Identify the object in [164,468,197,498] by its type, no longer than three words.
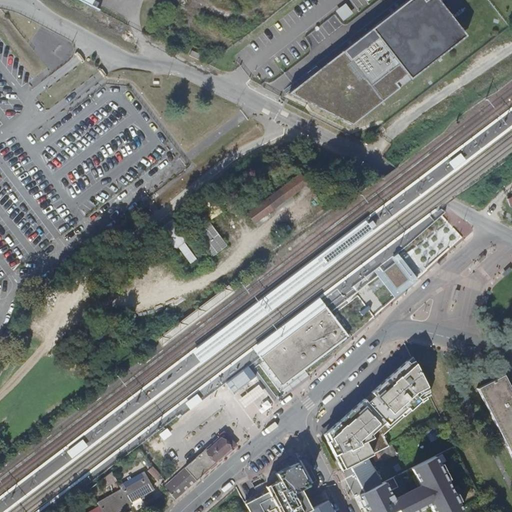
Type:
house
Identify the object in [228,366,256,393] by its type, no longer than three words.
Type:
shed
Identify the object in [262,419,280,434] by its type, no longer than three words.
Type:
vehicle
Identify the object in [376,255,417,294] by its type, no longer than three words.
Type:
building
